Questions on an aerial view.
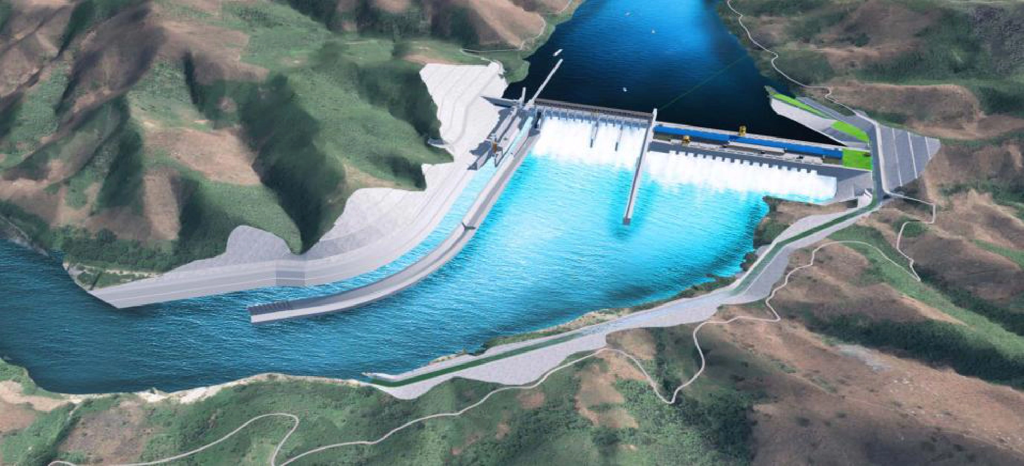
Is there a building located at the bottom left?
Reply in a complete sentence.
No, there is no building at the bottom left.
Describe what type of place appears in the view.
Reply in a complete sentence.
The area seen from above is a port.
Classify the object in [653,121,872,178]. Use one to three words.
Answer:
building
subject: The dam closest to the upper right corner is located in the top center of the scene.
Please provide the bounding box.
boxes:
[532,99,654,138]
